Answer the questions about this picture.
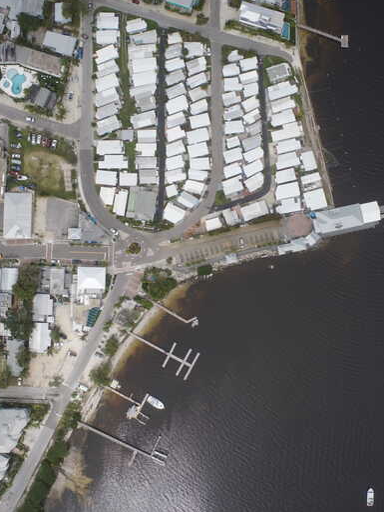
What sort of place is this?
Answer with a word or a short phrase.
residential area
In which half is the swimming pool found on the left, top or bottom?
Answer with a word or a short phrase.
top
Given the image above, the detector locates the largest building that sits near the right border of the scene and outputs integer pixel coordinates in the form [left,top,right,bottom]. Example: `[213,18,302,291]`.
[313,200,381,237]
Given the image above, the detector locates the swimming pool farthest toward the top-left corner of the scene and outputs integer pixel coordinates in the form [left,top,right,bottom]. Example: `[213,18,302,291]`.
[0,65,42,98]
